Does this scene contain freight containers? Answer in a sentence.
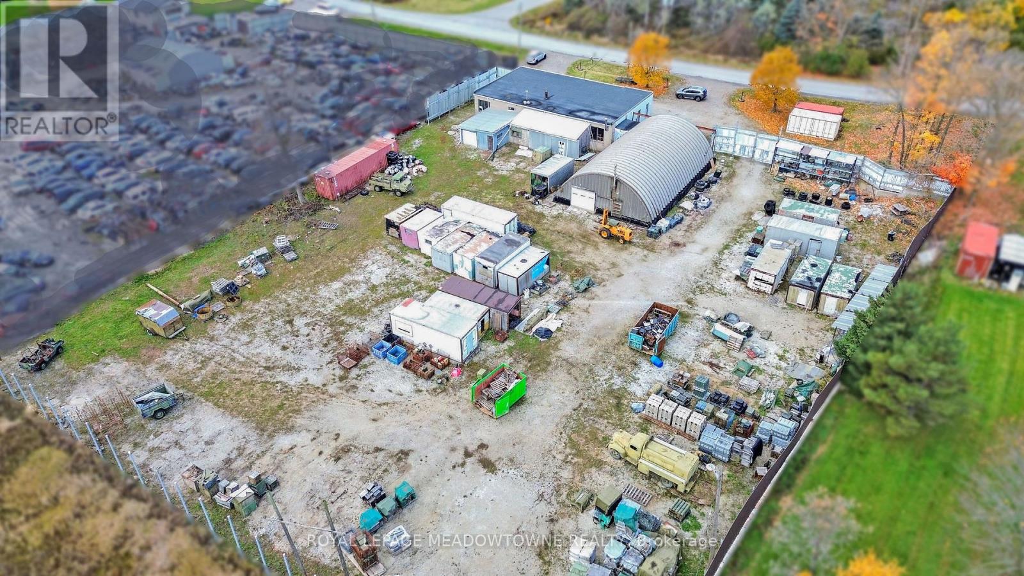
Yes, there is a freight container in the image.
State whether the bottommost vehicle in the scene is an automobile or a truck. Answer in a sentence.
Looking closely, the bottommost vehicle is a truck.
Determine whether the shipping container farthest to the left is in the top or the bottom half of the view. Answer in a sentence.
It is in the top half that the shipping container farthest to the left appears.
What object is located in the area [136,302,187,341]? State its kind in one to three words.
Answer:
trailer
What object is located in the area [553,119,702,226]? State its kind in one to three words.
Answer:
shed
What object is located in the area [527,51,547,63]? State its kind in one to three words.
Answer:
vehicle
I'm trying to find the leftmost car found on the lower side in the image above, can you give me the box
[15,337,62,371]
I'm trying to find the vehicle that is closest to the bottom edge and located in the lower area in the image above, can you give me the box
[606,427,703,495]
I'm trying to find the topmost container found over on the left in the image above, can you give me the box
[310,138,404,196]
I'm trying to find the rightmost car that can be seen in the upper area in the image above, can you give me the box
[674,86,707,101]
